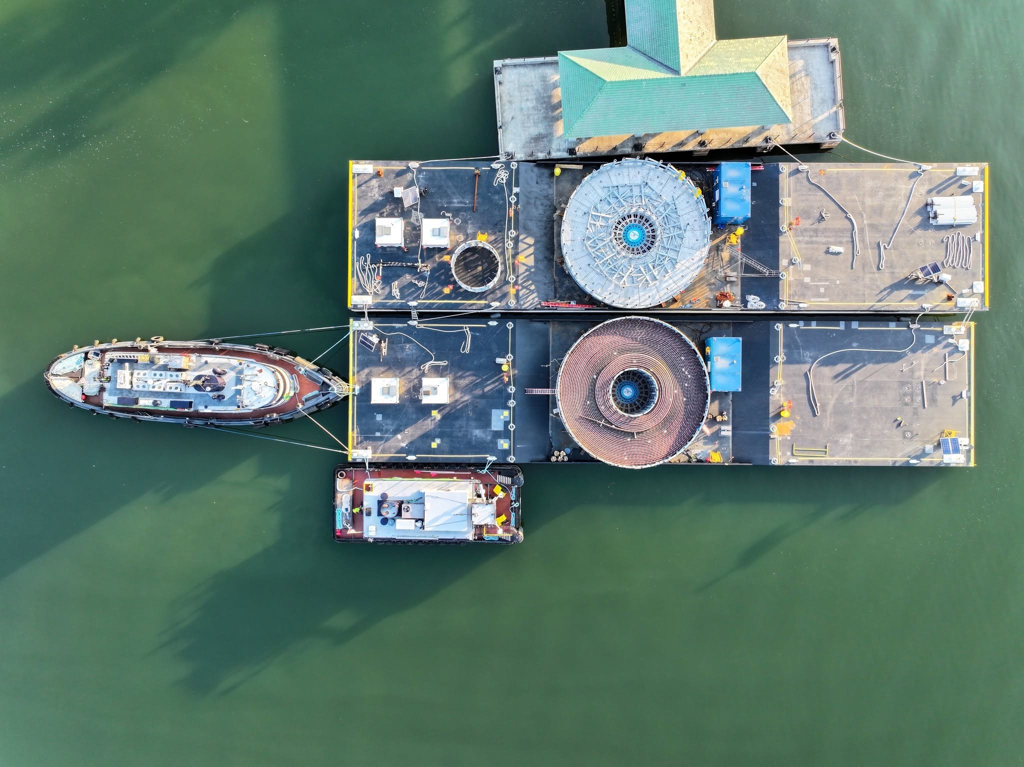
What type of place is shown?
port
